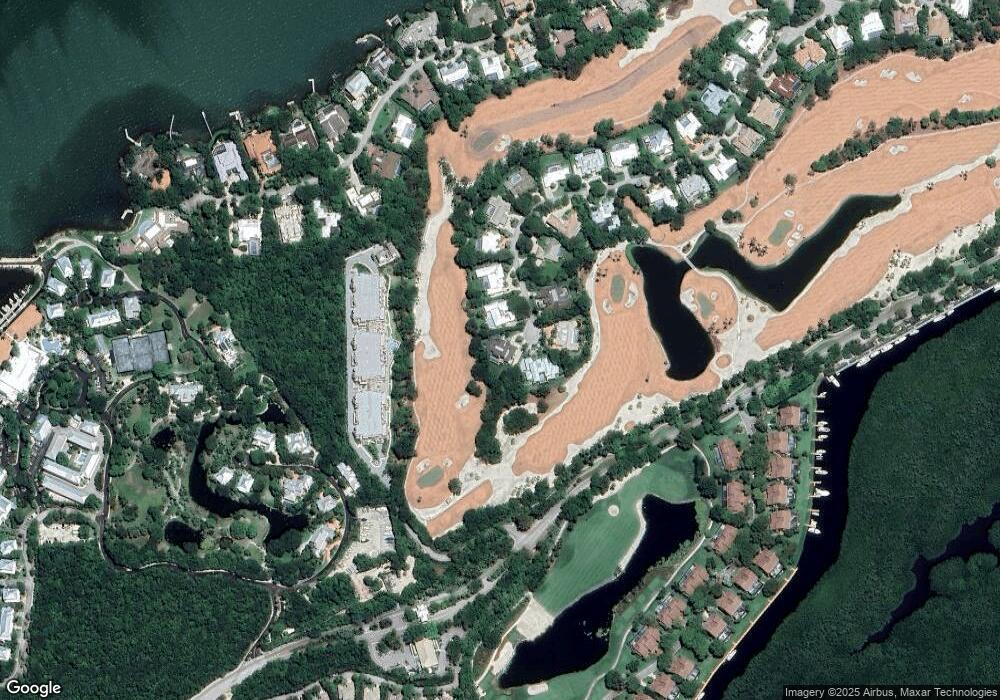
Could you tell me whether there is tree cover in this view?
Yes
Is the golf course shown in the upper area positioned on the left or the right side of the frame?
right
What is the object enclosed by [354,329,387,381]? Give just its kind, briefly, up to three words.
building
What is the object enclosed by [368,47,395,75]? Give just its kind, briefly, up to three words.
house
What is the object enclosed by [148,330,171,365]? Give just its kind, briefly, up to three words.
tennis court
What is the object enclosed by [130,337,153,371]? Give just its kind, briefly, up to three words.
tennis court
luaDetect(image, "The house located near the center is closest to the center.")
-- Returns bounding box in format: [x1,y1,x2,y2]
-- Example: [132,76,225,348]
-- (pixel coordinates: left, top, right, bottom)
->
[483,332,522,364]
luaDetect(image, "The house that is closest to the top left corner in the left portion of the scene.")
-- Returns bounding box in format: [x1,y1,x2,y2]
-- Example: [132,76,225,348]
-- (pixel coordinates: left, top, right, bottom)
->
[130,146,167,177]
